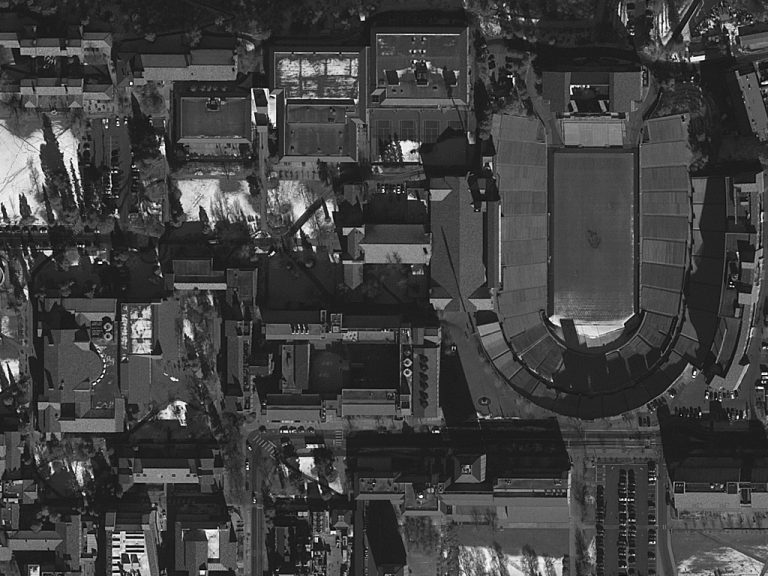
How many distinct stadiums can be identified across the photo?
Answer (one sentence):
The picture shows 1 stadium.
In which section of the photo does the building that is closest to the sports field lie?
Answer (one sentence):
The building that is closest to the sports field is in the top right part of the image.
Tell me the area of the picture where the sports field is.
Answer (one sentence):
Look in the right portion of the view to spot the sports field.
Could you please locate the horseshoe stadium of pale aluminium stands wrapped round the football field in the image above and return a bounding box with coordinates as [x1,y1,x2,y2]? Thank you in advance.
[477,112,728,420]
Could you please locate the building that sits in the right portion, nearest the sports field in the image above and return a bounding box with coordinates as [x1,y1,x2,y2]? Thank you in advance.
[556,112,628,148]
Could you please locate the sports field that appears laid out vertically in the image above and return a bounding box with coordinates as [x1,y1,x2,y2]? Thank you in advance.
[547,146,640,353]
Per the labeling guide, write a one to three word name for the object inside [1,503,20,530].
house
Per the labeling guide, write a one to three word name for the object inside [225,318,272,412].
building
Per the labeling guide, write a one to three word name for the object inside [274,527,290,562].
house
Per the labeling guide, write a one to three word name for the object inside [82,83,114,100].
building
